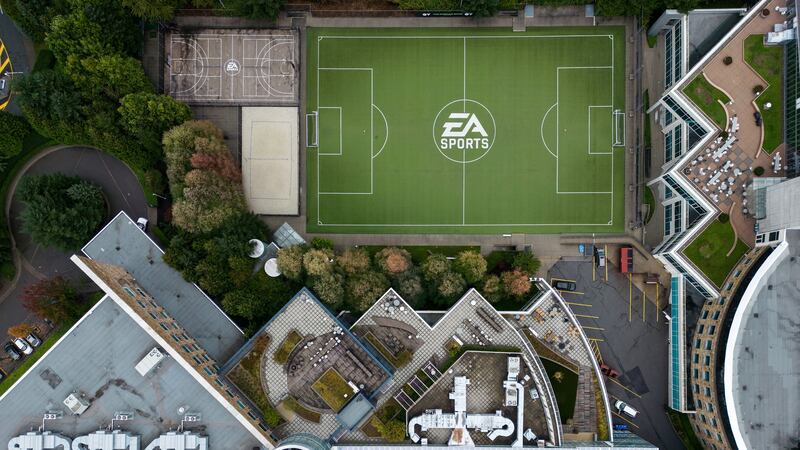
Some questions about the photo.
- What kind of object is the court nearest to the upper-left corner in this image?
basketball court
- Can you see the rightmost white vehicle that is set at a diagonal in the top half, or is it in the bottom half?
bottom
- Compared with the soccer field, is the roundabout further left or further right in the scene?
to the left of it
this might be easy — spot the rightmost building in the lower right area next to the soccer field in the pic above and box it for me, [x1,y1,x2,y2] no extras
[688,230,800,450]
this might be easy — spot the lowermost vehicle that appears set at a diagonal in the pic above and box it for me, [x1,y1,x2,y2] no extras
[613,398,638,418]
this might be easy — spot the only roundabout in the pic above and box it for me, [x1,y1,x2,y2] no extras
[6,145,148,262]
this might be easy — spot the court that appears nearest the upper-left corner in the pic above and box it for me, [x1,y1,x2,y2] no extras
[165,27,299,104]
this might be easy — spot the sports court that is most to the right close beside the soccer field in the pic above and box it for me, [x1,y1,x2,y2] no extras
[241,106,298,215]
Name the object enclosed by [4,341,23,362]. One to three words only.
car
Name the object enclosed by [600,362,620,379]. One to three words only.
car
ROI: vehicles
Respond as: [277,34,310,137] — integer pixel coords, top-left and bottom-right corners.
[135,214,151,232]
[555,280,577,291]
[613,398,638,418]
[597,247,606,268]
[0,370,9,385]
[4,341,23,362]
[610,419,628,429]
[14,336,34,356]
[26,330,45,349]
[600,362,620,379]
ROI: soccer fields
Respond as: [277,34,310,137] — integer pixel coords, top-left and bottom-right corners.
[307,27,625,234]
